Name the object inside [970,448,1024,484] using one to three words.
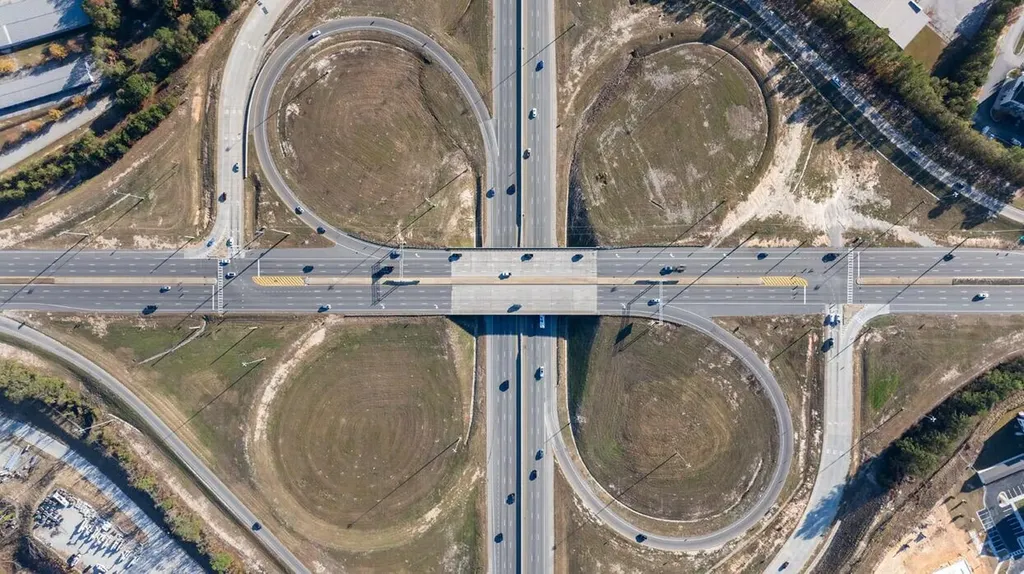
building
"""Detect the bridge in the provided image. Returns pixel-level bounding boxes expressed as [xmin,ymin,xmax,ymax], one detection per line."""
[451,248,597,315]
